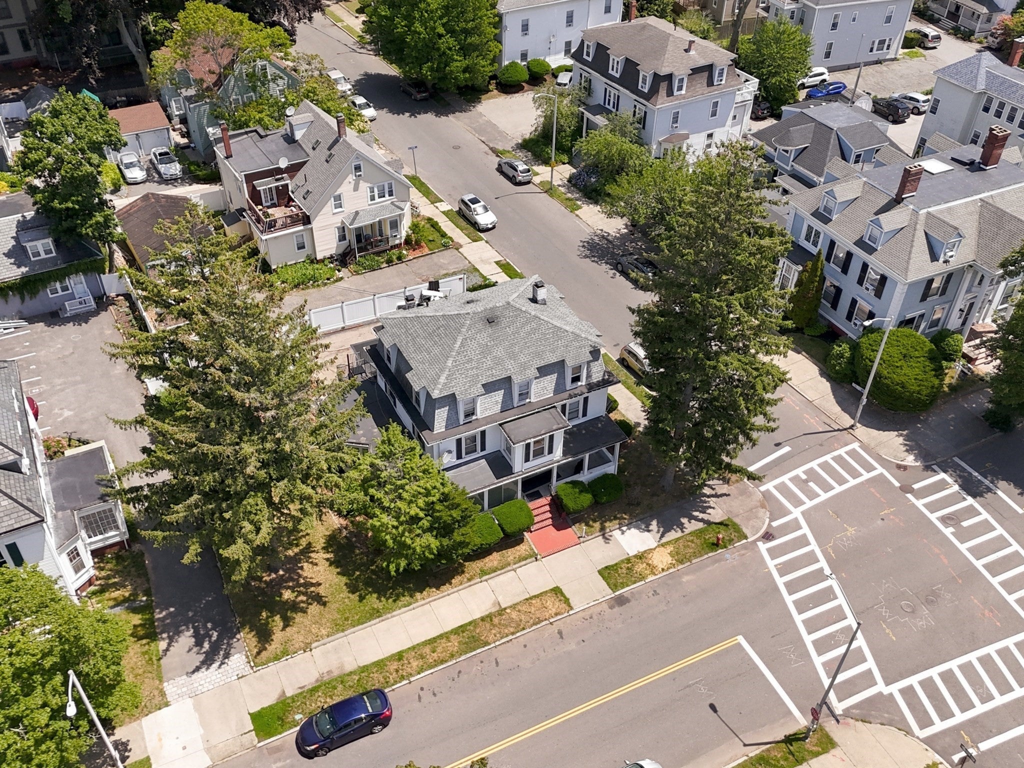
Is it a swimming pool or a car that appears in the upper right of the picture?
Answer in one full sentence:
Visible in the upper right of the picture is a car.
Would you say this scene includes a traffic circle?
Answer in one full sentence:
No, the photo shows no traffic circle.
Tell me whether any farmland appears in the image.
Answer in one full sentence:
No, there is no farmland in the image.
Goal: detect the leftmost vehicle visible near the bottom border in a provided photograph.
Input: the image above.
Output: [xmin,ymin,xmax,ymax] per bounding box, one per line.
[292,686,393,756]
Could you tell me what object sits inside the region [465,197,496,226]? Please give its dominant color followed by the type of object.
white car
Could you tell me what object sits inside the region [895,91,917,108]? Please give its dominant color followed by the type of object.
gray car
